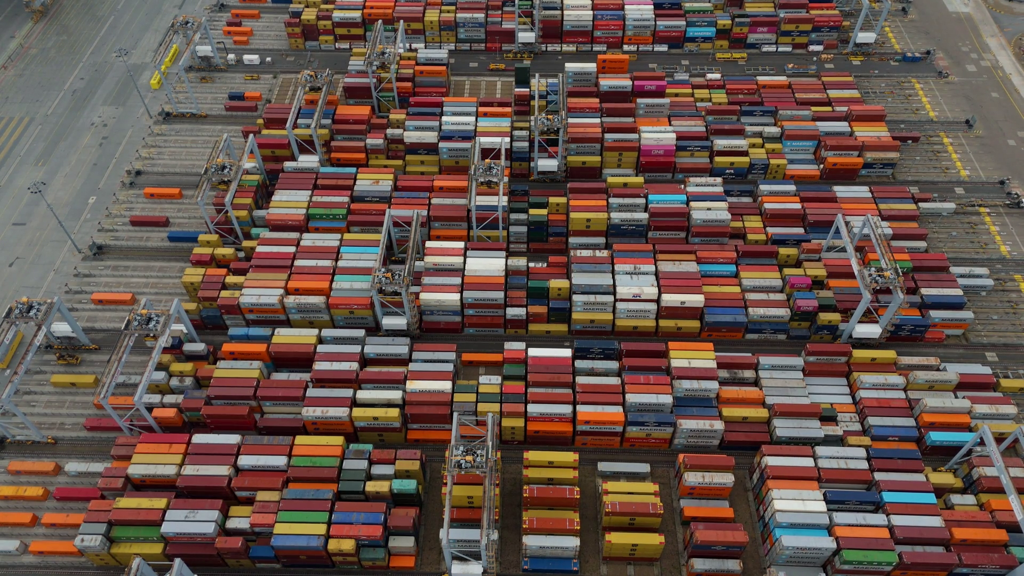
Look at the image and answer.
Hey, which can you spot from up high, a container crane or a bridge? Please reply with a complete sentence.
Of the two, only a container crane appears.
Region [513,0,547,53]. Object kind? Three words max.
container crane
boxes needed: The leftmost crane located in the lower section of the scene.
[0,294,103,443]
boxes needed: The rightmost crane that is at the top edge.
[843,0,895,56]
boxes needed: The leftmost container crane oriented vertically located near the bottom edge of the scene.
[442,411,504,576]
